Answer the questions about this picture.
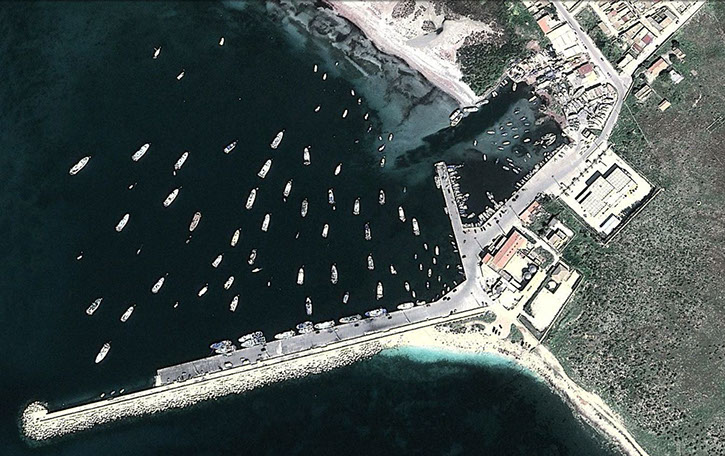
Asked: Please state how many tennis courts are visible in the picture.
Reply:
0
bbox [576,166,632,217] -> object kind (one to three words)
building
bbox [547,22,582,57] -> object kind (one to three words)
building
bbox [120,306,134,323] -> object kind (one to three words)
boat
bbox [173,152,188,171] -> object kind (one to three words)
boat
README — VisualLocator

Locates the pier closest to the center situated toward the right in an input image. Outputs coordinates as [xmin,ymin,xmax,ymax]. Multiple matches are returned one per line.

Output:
[435,160,462,241]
